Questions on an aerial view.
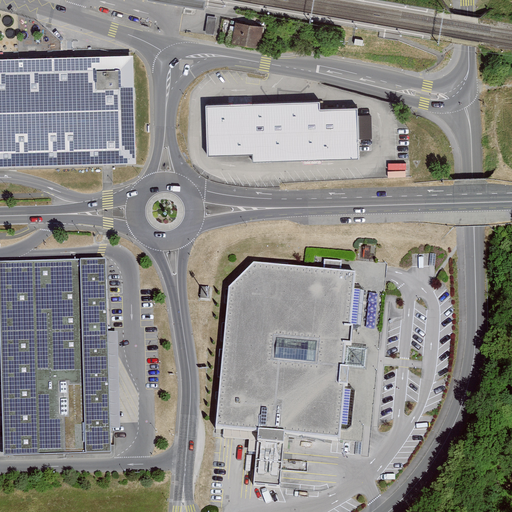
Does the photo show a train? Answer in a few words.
No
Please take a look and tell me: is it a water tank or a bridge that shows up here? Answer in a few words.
bridge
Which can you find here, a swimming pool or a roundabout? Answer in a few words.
roundabout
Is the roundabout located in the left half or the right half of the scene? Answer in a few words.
left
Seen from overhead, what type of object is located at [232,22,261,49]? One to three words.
house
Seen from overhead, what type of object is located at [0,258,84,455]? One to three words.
building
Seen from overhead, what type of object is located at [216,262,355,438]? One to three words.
building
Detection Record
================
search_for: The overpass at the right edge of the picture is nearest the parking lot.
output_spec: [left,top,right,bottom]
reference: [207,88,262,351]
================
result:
[446,168,496,233]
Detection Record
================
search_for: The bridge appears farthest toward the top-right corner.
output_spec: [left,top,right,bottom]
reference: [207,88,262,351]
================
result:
[444,6,492,52]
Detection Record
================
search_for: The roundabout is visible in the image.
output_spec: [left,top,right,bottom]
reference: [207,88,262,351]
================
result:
[126,172,204,250]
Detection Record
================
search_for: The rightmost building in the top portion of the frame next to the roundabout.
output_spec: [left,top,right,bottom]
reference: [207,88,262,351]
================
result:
[206,102,359,164]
